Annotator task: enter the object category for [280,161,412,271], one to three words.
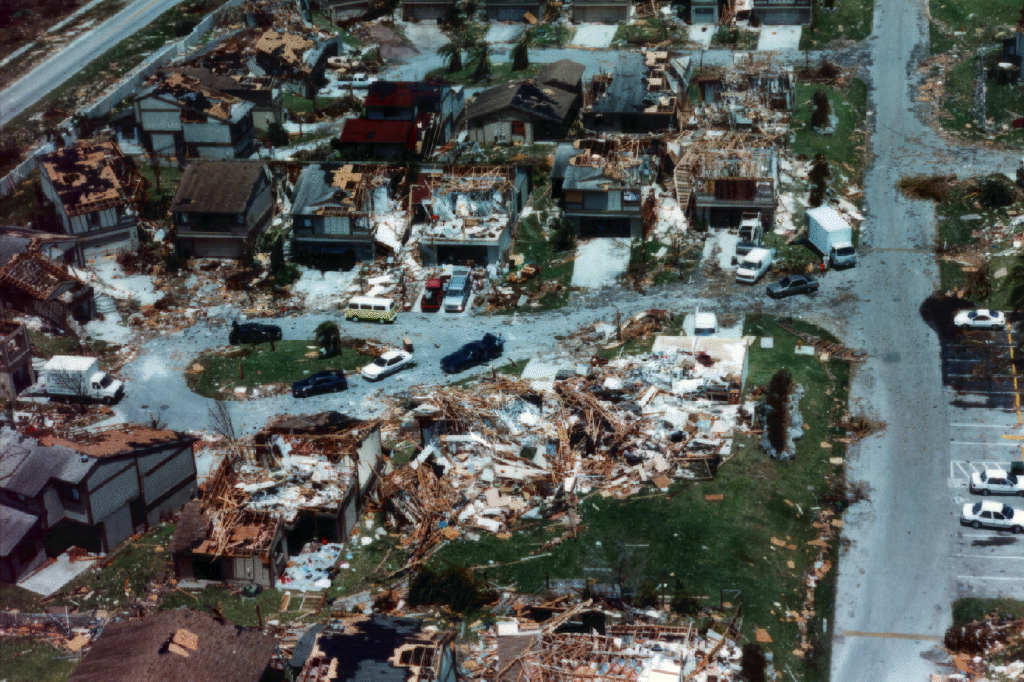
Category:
house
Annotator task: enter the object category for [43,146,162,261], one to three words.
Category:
house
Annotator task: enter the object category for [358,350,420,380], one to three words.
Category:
car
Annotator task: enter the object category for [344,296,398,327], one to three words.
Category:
bus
